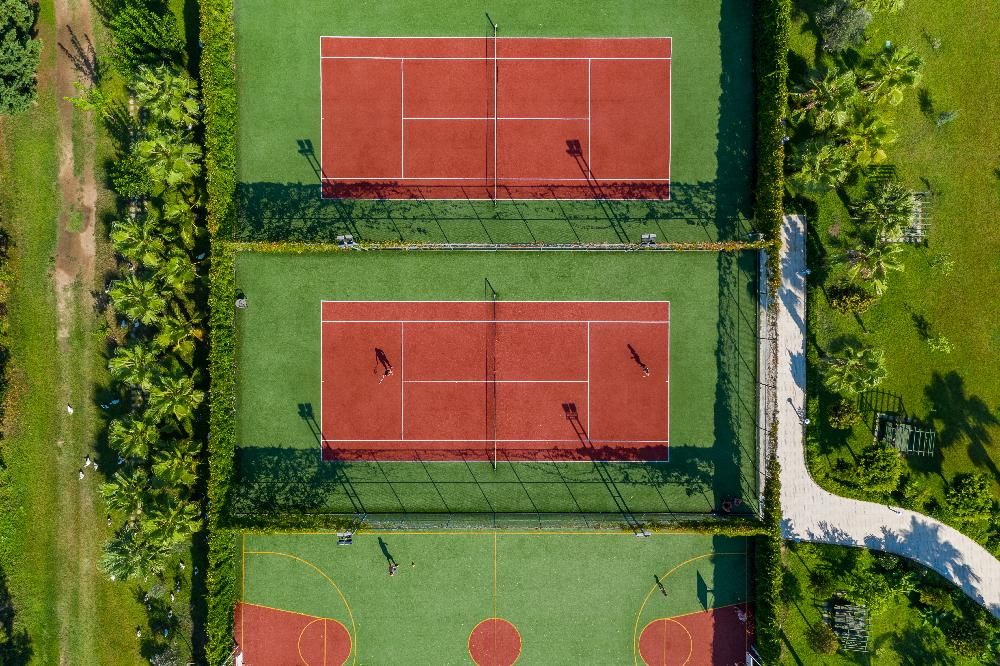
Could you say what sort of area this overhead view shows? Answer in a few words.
sports ground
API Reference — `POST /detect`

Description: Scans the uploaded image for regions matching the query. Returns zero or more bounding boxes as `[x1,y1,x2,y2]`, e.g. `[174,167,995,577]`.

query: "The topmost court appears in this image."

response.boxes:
[234,0,757,245]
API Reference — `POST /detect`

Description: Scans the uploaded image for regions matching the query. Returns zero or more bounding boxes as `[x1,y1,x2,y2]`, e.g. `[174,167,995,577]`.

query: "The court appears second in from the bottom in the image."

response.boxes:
[234,250,757,513]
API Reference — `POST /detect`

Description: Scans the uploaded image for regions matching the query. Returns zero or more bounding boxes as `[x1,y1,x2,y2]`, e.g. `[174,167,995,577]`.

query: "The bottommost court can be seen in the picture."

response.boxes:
[234,514,756,666]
